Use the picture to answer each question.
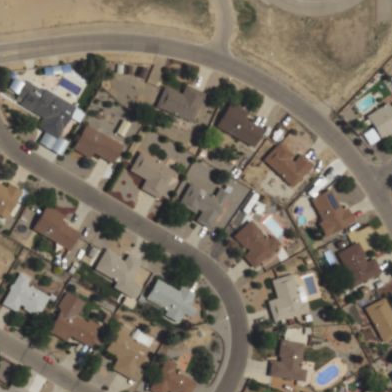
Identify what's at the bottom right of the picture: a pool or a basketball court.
pool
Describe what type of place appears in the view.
residential area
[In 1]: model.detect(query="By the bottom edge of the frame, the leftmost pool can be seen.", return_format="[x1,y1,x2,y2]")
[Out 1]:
[312,360,343,388]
